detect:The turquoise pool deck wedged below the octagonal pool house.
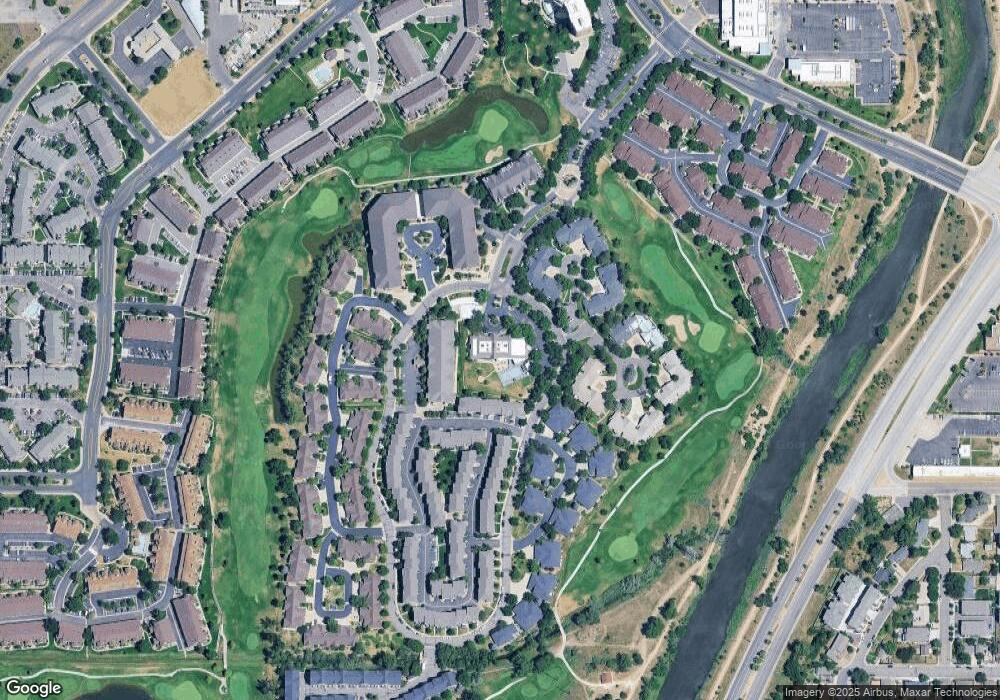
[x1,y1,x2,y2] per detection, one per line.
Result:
[24,298,44,316]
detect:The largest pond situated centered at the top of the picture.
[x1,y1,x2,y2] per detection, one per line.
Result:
[405,85,549,153]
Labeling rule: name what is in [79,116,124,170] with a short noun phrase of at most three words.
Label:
building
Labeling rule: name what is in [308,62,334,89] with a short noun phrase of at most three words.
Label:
swimming pool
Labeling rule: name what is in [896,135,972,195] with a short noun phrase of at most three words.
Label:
bridge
